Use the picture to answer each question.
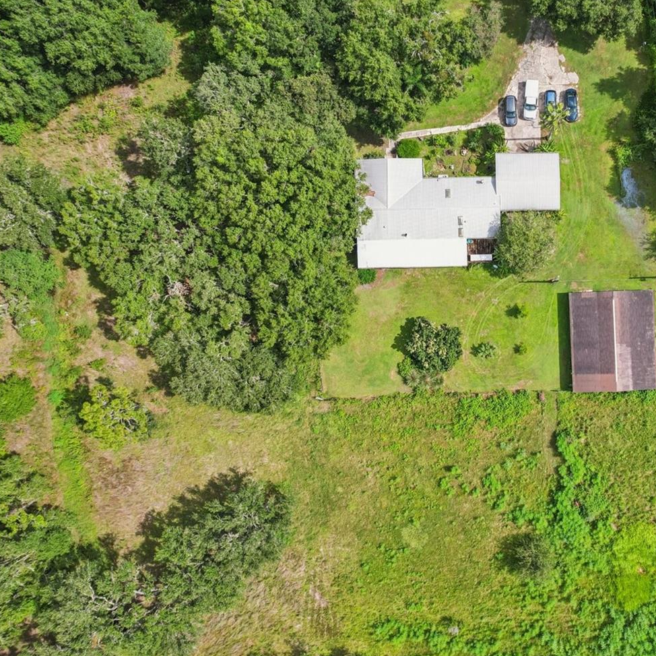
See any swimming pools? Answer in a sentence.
No, no swimming pool is visible in the view.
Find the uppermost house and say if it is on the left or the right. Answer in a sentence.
It is on the right.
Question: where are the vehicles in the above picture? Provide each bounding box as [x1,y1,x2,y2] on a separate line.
[523,78,539,121]
[565,88,579,123]
[503,95,518,127]
[544,92,558,122]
